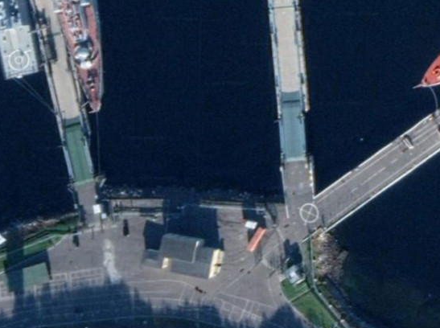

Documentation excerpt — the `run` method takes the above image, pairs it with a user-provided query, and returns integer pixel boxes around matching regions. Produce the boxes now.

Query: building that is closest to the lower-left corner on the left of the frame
[3,263,54,291]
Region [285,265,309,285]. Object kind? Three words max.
building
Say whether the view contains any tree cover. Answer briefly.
No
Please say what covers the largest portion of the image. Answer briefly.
water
